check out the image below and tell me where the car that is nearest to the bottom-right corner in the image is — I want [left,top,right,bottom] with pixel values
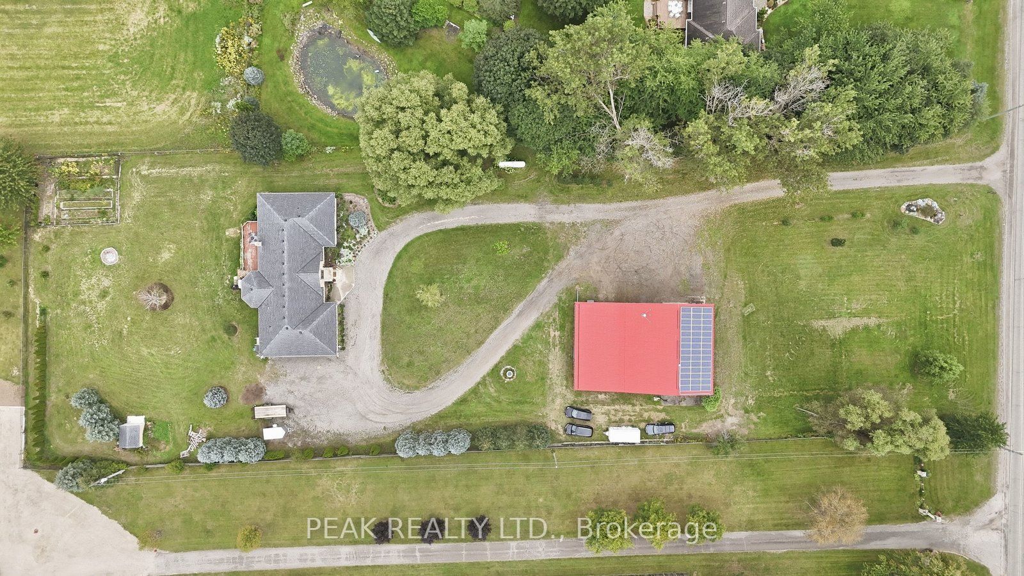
[646,423,676,436]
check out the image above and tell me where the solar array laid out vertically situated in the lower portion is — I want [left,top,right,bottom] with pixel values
[677,305,713,396]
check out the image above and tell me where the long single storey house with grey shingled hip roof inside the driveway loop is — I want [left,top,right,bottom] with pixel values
[241,192,340,357]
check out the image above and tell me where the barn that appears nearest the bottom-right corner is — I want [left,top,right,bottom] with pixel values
[574,302,713,396]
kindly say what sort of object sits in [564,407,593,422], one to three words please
car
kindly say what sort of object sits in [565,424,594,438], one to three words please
car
